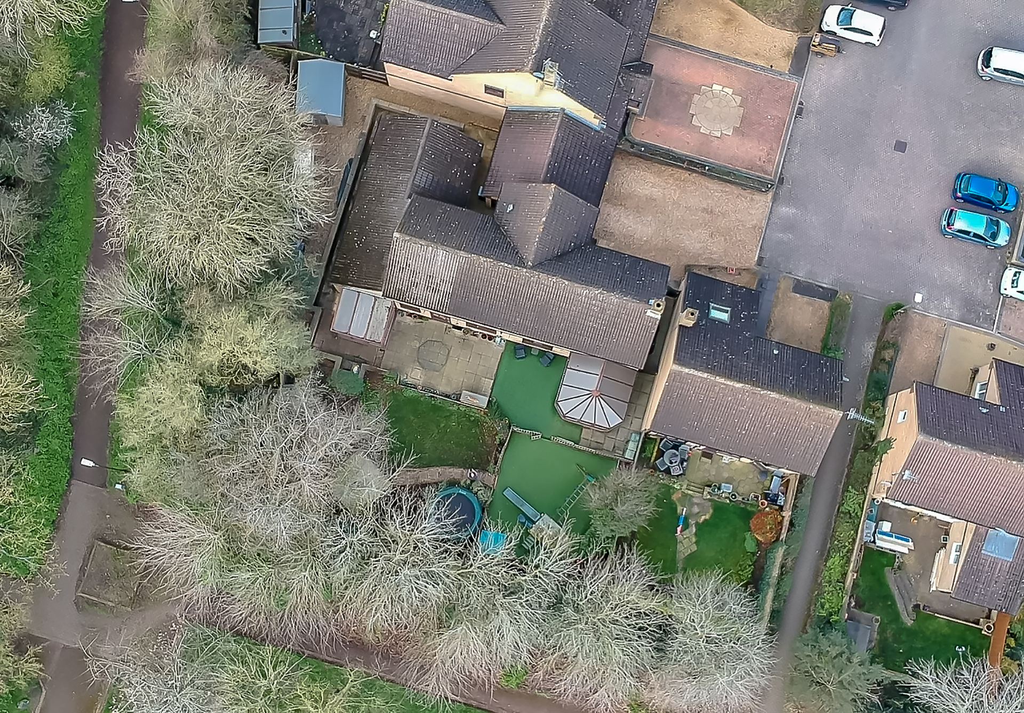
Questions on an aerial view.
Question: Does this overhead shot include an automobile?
Yes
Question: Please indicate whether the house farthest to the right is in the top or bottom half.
bottom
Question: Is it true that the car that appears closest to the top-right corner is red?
No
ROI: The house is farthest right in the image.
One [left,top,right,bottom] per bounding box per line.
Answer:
[872,355,1024,611]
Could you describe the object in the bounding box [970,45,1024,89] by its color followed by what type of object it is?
white car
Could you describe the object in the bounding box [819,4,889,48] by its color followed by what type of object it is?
white car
